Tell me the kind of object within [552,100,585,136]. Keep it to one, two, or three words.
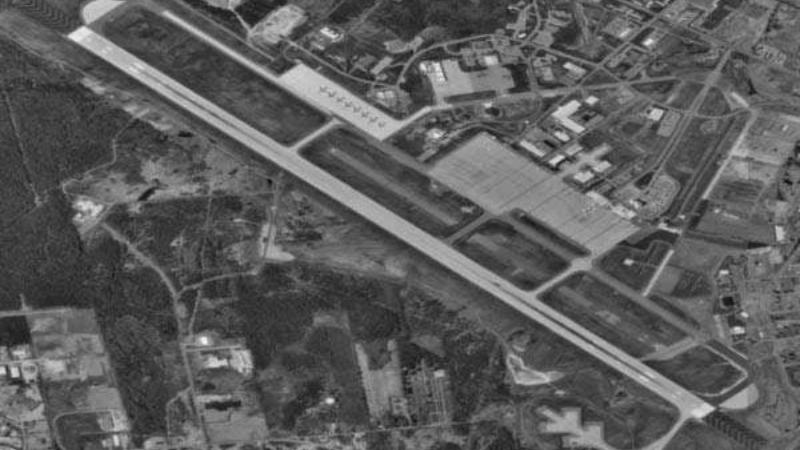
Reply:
hangar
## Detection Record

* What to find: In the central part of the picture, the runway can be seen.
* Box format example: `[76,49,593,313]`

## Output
[69,26,716,420]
